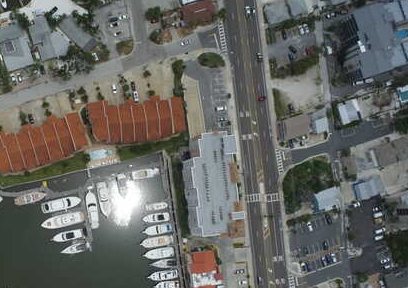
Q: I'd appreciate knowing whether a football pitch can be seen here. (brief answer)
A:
No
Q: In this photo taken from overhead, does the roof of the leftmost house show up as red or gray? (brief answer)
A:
gray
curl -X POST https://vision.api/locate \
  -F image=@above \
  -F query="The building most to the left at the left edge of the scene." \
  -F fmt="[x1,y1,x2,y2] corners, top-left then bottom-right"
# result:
[0,26,35,71]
